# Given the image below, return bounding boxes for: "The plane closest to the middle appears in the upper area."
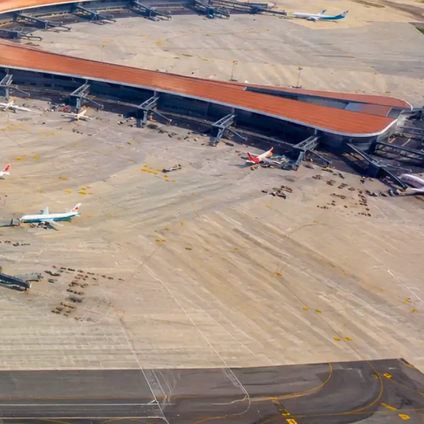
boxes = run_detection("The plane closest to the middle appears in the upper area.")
[232,144,286,164]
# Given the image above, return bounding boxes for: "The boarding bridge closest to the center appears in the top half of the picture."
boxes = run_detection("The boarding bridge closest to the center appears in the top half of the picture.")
[210,117,251,150]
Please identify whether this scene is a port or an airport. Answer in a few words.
airport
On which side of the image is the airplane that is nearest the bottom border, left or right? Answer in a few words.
left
